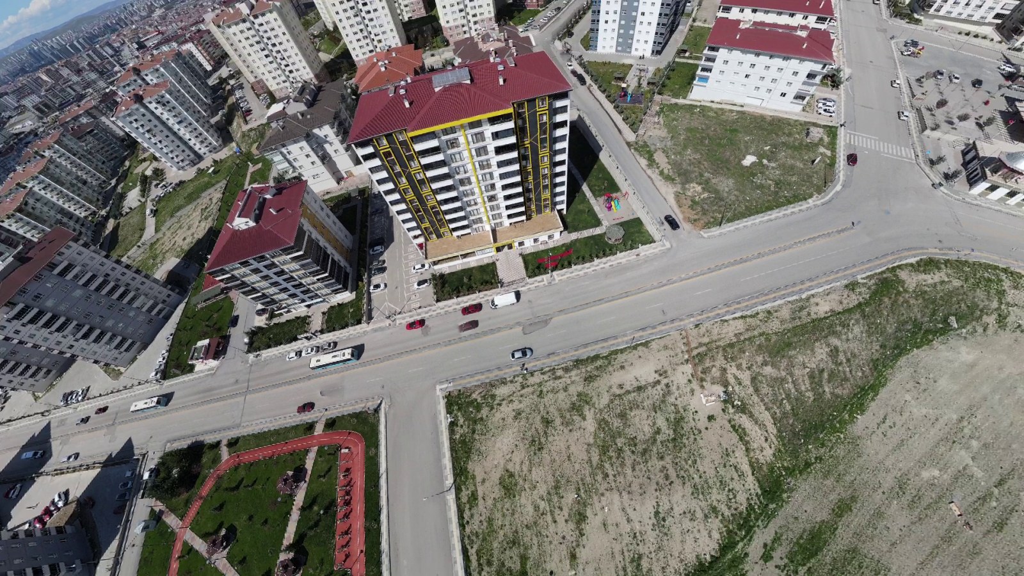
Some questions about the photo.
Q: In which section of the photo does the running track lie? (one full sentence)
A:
You can find the running track in the bottom left area of the picture.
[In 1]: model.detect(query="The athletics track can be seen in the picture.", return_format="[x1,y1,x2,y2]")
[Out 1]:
[170,431,365,576]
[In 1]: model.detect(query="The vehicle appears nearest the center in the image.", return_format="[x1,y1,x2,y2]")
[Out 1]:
[492,289,517,306]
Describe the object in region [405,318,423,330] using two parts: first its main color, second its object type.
red vehicle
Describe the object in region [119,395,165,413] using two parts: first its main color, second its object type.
white vehicle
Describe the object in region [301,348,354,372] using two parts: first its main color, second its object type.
white bus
